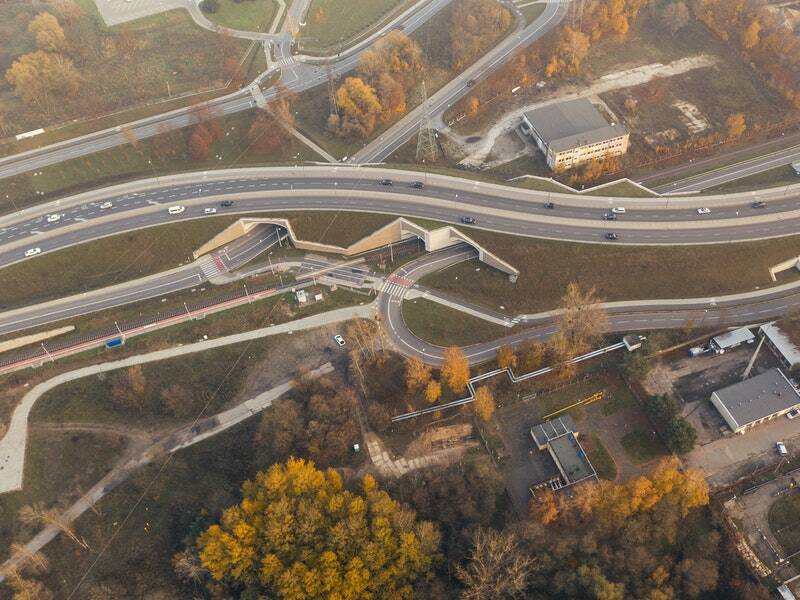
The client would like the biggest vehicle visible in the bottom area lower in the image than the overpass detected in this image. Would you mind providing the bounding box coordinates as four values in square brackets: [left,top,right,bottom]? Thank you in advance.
[774,438,790,460]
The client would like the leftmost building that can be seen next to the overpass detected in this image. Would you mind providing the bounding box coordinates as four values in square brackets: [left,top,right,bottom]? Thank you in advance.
[523,96,630,170]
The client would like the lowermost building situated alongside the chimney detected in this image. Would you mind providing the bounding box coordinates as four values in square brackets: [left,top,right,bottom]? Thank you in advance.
[706,373,800,442]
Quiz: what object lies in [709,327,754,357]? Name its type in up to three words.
shed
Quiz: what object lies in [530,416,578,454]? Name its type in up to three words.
building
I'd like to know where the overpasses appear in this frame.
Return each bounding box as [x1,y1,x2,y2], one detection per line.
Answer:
[0,166,800,269]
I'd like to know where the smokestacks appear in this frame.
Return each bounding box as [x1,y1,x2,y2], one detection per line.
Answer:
[740,334,766,380]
